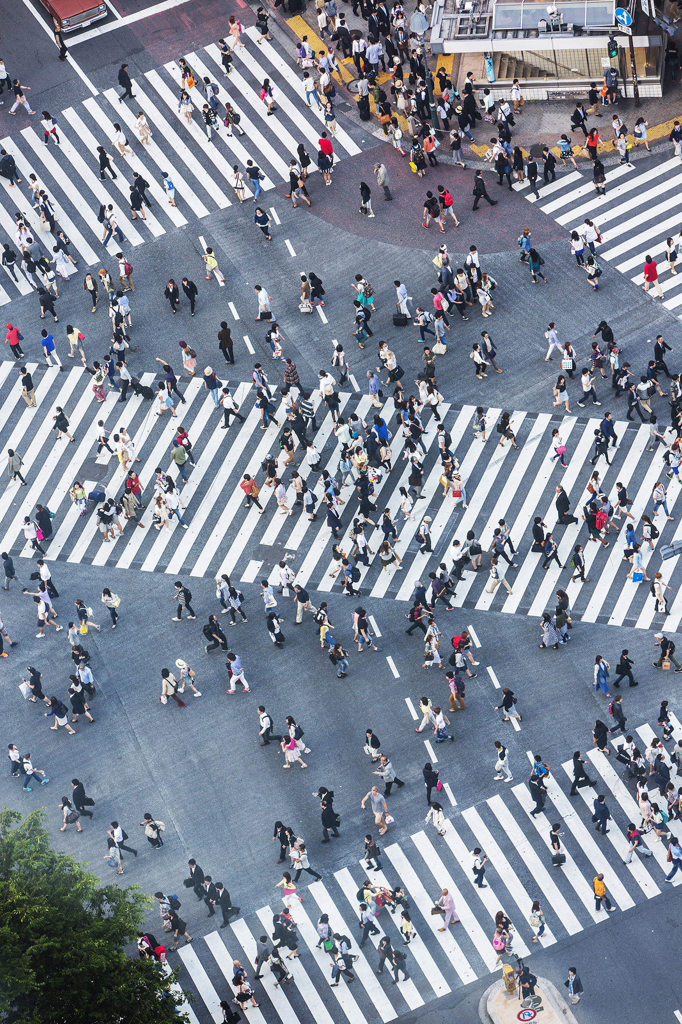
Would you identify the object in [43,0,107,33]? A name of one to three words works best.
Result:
truck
